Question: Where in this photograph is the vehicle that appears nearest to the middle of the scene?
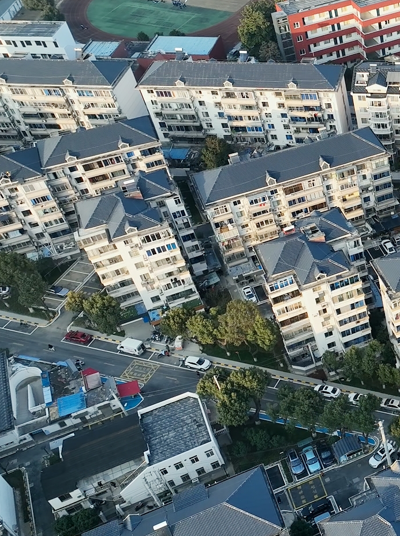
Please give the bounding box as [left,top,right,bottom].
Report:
[240,285,258,303]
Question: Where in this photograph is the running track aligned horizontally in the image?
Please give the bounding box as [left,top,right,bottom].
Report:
[62,0,250,65]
